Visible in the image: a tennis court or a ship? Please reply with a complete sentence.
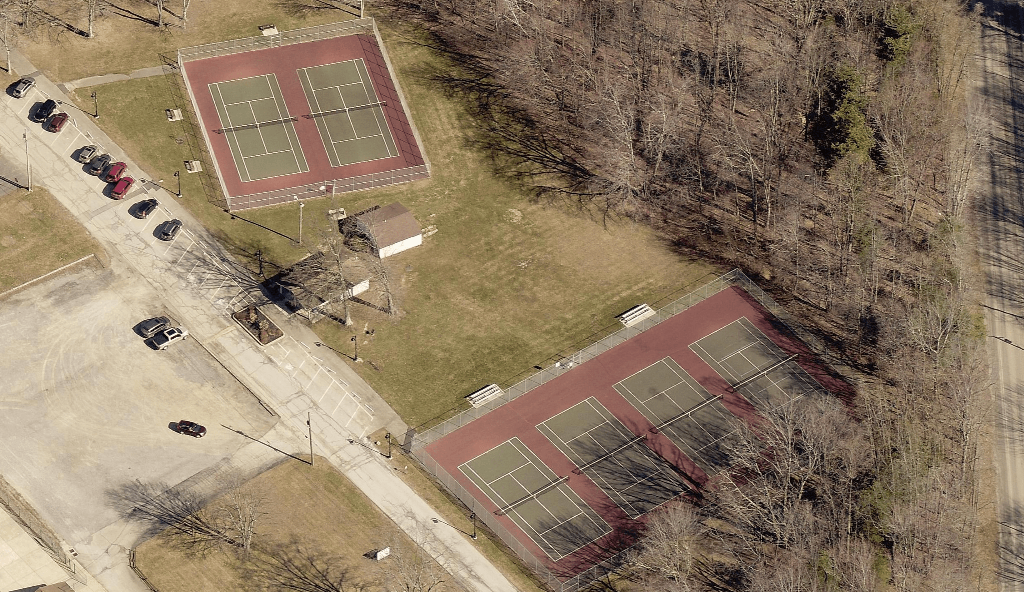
I can see a tennis court in this picture.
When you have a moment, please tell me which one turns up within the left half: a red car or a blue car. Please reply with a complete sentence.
The feature located within the left half is a red car.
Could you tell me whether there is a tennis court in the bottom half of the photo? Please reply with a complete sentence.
Yes, a tennis court appears in the bottom half of the photo.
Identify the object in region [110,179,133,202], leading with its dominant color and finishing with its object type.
red car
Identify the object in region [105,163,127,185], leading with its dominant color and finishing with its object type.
red car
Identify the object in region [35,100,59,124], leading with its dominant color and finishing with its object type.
black car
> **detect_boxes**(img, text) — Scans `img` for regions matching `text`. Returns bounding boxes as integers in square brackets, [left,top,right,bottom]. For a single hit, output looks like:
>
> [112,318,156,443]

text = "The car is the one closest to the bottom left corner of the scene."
[173,419,206,441]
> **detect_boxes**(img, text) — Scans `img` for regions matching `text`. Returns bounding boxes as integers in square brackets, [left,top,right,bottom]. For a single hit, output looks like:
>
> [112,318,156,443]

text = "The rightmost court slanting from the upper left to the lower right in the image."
[690,317,842,435]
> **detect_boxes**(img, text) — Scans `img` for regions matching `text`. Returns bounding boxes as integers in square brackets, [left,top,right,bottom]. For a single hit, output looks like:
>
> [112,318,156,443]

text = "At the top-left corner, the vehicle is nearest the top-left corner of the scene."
[10,79,34,100]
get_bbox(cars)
[46,114,67,135]
[10,79,34,100]
[35,100,59,124]
[173,419,206,441]
[76,147,97,167]
[137,320,171,340]
[159,222,182,244]
[88,158,109,179]
[110,179,133,202]
[133,200,160,221]
[105,163,127,185]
